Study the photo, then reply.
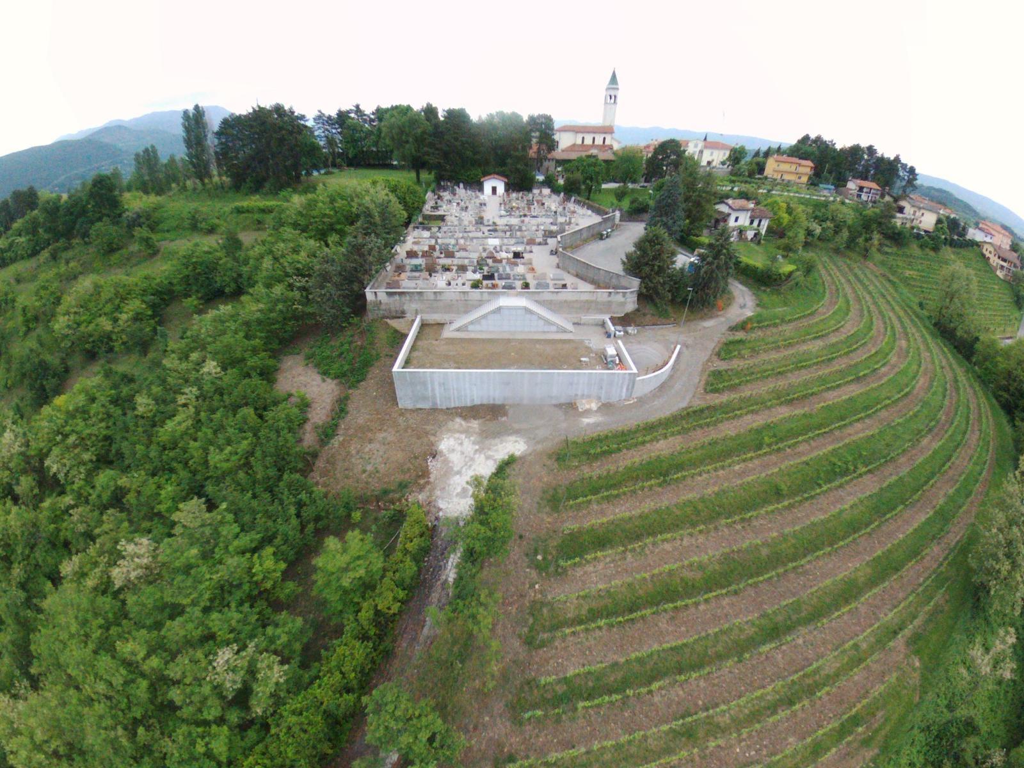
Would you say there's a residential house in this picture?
Yes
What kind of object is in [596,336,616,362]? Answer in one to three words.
vehicle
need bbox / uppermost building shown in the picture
[606,66,625,126]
